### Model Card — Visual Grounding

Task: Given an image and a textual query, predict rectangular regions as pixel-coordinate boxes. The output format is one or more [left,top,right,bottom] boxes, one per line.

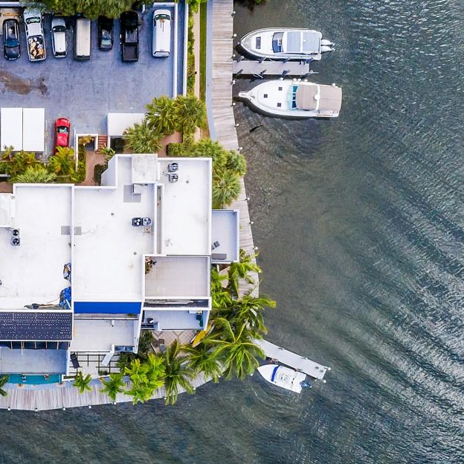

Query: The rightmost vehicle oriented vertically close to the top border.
[151,9,173,58]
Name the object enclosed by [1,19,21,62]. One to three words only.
car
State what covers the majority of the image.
water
